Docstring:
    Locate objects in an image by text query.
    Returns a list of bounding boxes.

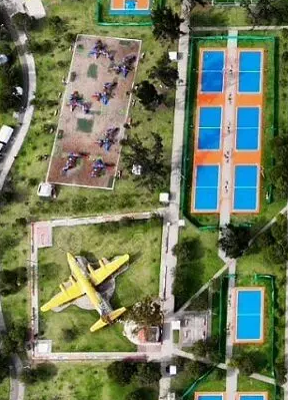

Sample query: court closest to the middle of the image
[190,157,226,213]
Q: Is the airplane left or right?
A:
left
